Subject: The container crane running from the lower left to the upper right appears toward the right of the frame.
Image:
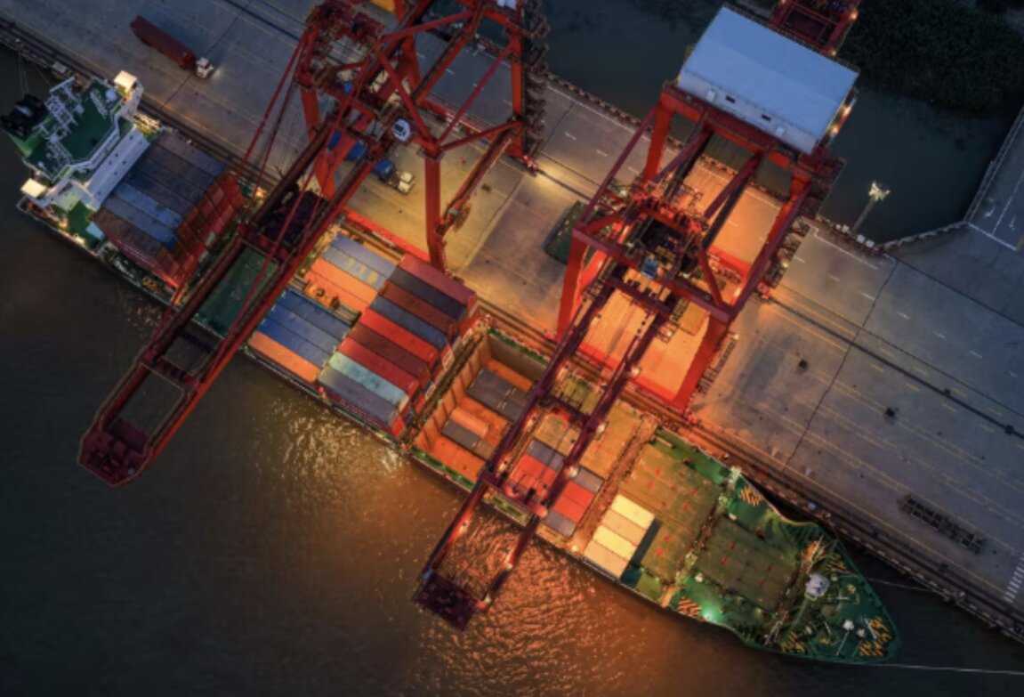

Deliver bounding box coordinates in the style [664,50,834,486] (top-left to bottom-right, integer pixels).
[413,0,863,632]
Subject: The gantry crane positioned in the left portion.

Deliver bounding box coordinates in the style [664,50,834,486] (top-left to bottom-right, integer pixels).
[68,0,554,486]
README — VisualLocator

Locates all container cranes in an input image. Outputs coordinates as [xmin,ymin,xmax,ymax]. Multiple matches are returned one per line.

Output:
[68,0,554,486]
[413,0,863,632]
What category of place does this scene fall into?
port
